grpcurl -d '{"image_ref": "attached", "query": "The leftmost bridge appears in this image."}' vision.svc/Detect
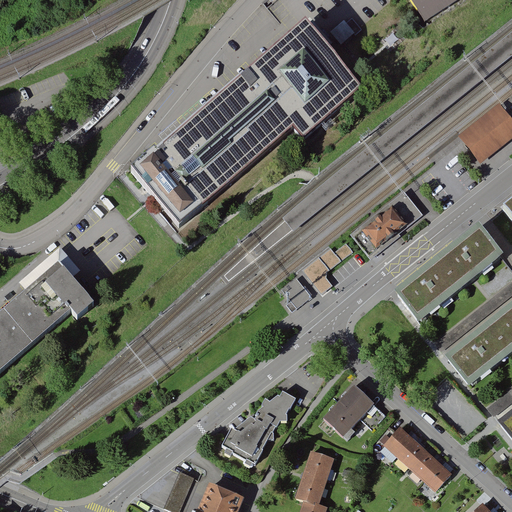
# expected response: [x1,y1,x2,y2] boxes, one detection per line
[0,450,58,486]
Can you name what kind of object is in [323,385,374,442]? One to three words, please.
house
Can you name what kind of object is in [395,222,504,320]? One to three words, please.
building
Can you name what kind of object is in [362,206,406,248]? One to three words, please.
house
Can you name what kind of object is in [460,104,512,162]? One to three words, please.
shed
